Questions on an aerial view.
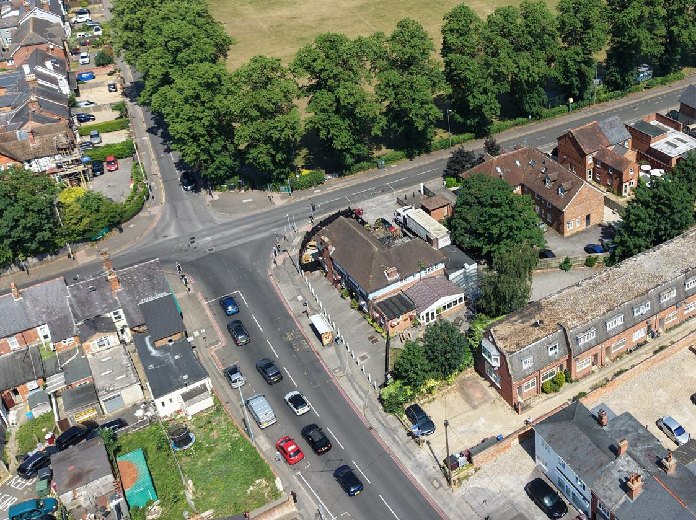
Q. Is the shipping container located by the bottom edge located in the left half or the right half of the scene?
left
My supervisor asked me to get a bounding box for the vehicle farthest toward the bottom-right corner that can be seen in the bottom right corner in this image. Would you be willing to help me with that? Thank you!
[655,413,690,447]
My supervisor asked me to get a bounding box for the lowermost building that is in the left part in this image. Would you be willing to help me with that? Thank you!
[52,433,122,515]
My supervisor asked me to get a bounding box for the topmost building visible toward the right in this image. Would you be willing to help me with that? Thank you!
[629,73,652,94]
